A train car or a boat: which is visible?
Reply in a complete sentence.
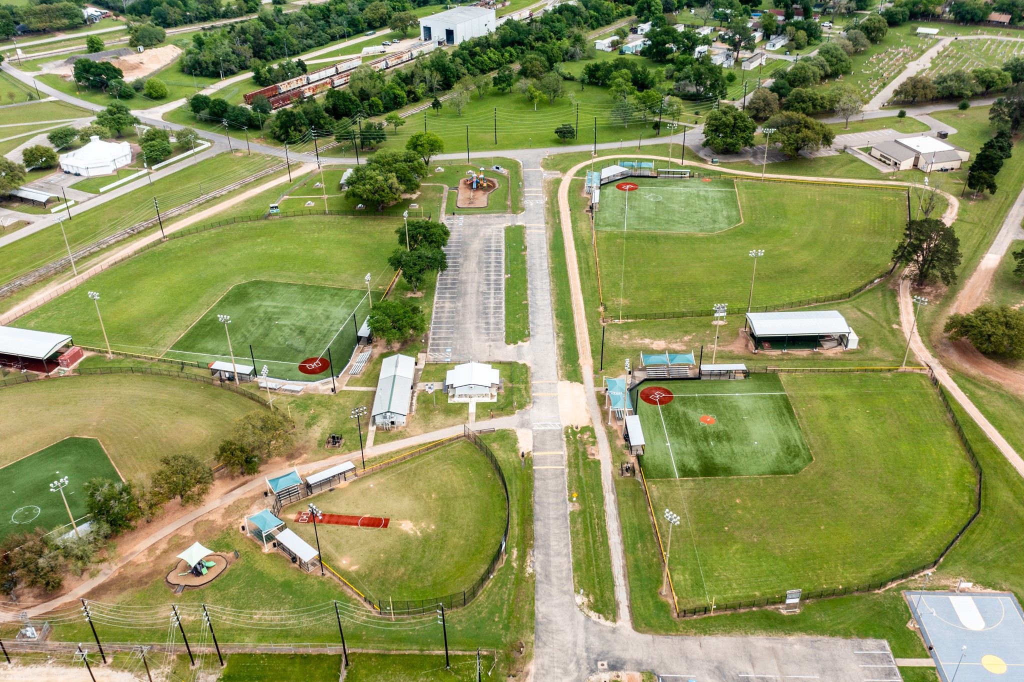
Of the two, only a train car appears.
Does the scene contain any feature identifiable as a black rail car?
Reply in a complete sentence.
No, no black rail car is visible in the view.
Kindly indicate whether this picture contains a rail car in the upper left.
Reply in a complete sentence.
Yes, looking in the upper left, one can make out a rail car.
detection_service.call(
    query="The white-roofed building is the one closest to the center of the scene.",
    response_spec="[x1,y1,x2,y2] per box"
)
[442,360,503,398]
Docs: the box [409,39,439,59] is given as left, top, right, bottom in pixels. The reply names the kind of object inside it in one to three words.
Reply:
rail car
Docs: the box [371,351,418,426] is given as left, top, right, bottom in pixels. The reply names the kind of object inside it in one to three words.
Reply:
building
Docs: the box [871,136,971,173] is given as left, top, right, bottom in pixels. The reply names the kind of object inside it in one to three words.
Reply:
building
